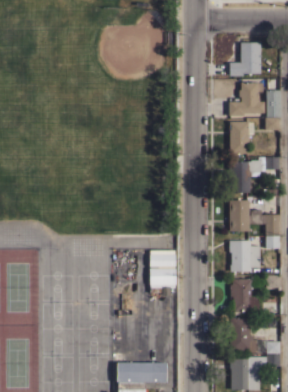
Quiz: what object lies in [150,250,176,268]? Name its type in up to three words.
building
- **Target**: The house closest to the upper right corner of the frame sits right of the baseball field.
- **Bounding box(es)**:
[230,42,262,76]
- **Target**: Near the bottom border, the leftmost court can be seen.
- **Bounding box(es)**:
[4,338,32,389]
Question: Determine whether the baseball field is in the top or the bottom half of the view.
top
